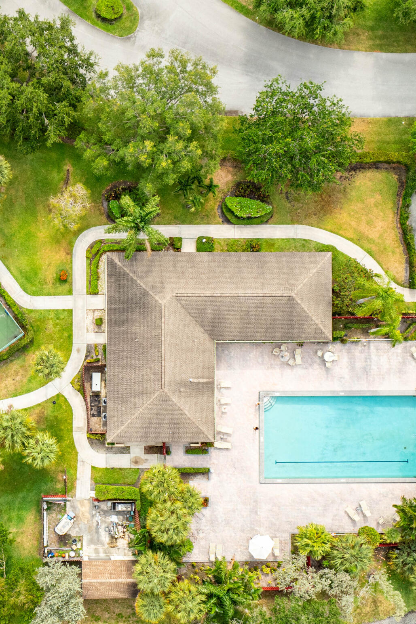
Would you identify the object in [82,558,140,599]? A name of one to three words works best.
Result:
shed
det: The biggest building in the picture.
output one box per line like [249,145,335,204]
[105,251,333,443]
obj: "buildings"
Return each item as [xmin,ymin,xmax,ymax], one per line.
[82,558,140,599]
[105,251,333,443]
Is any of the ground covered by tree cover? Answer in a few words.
Yes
